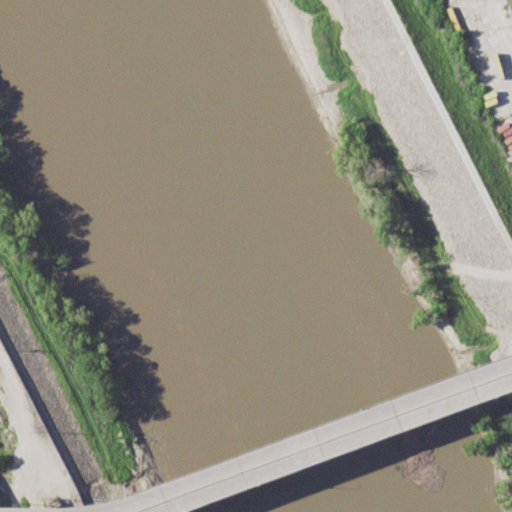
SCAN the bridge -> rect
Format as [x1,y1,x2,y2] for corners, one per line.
[0,356,512,512]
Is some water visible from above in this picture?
Yes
